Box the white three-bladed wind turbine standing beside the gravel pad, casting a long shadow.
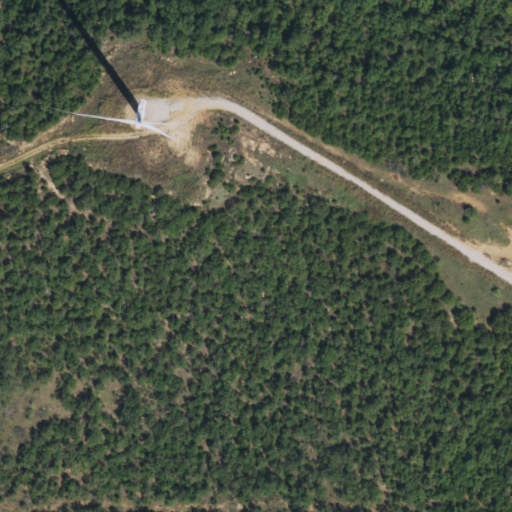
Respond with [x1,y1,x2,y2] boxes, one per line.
[54,98,183,140]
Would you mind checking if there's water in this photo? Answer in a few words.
No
